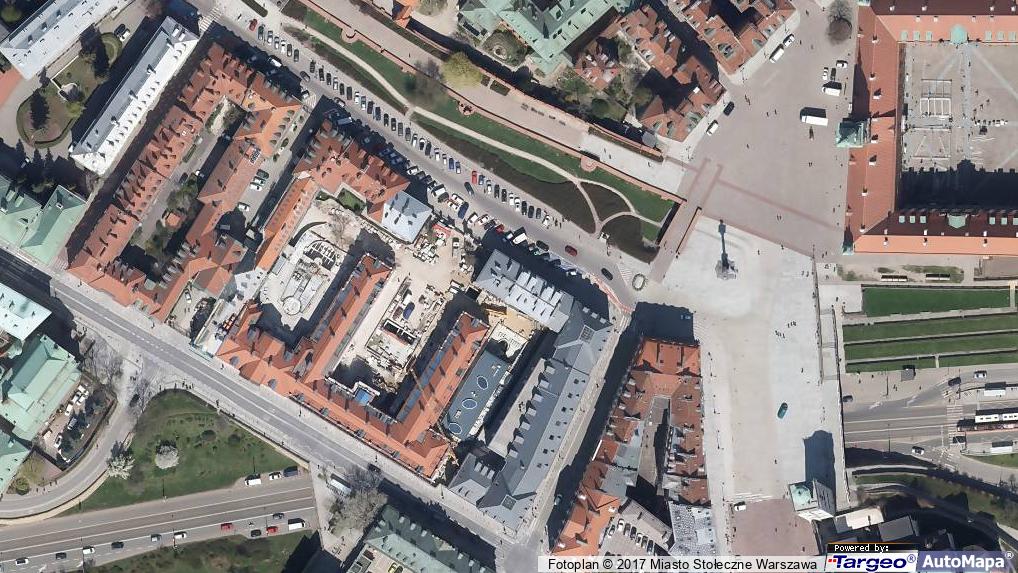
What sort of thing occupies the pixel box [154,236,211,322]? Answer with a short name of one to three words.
building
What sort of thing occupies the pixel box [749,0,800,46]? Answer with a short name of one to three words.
house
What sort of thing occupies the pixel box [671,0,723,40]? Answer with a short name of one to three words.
house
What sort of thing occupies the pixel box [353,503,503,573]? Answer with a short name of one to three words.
building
